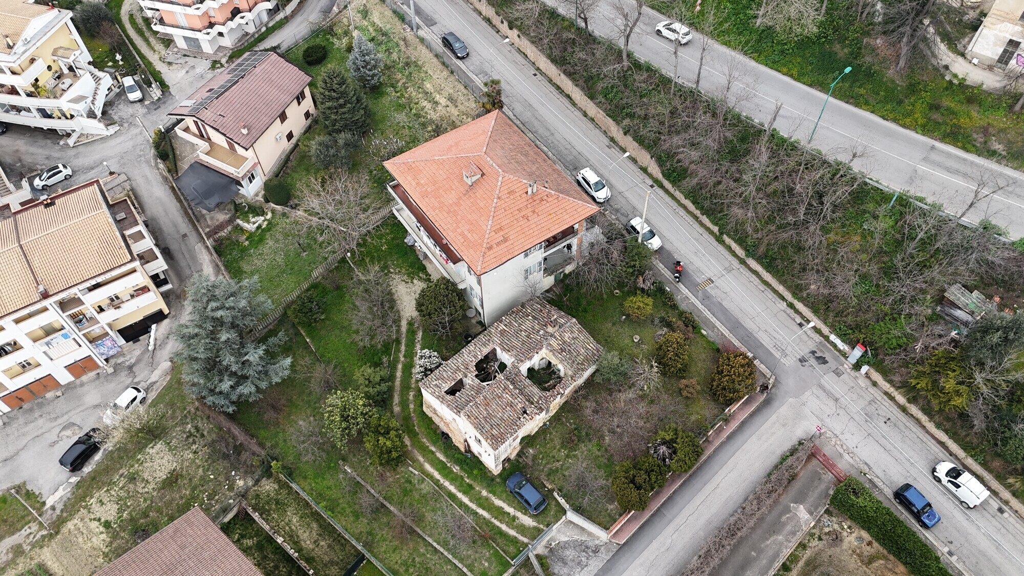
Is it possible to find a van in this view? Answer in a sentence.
Yes, this view includes a van.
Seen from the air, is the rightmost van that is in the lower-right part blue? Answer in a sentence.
No, from above the rightmost van that is in the lower-right part looks white.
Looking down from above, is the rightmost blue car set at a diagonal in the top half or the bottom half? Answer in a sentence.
The bottom half of the photo is where the rightmost blue car set at a diagonal is.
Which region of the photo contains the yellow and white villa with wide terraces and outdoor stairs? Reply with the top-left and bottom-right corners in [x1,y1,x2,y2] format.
[0,0,107,135]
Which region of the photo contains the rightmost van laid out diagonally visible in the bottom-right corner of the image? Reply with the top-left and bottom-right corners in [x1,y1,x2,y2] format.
[931,462,993,513]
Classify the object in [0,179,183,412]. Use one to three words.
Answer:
building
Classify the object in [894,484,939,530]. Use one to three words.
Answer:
car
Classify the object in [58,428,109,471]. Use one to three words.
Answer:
car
